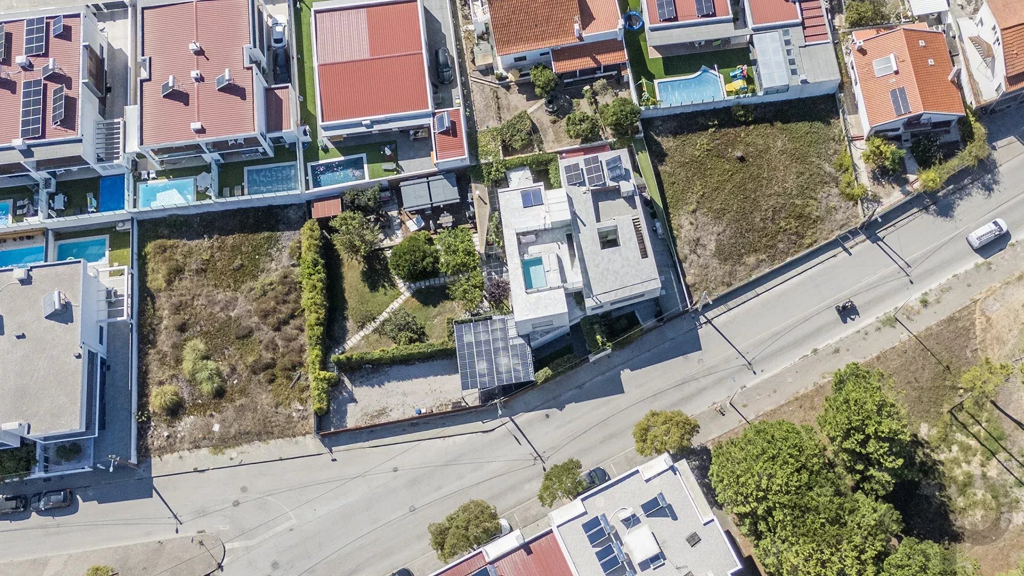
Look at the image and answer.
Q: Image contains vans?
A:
Yes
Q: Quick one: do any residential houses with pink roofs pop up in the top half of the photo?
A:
Yes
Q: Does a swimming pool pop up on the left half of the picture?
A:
Yes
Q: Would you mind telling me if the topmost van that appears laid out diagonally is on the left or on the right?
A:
right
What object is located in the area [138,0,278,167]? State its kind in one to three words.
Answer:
house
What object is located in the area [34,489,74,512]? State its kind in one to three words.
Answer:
car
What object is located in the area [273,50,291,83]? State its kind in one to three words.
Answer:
car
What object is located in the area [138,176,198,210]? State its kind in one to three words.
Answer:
swimming pool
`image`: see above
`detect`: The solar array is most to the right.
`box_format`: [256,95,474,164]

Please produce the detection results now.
[889,86,911,115]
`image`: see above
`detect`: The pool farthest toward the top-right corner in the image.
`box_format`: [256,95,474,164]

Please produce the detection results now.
[654,68,727,106]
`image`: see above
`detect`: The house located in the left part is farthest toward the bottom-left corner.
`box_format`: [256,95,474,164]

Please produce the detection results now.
[0,260,110,460]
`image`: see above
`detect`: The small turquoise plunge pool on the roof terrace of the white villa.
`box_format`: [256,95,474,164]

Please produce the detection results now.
[522,256,549,290]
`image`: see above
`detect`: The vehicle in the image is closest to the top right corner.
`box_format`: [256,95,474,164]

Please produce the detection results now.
[961,219,1007,256]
